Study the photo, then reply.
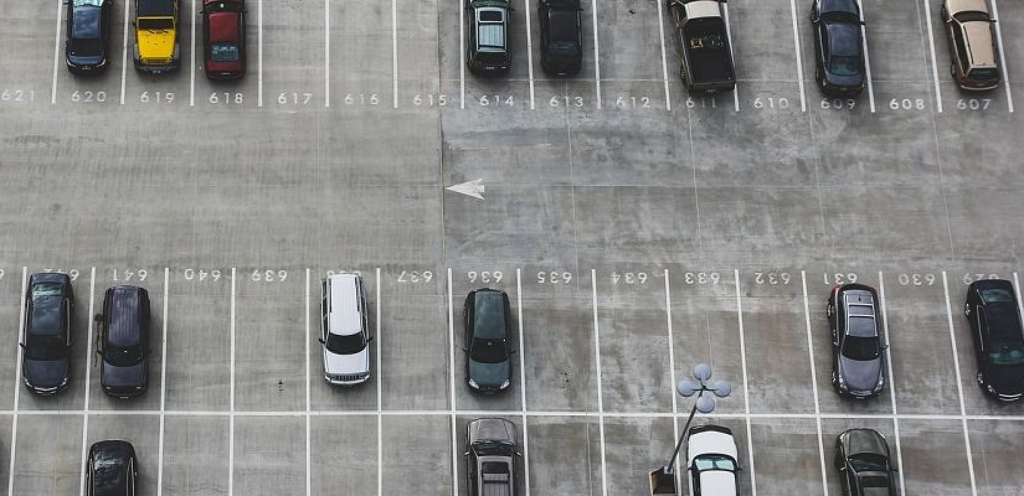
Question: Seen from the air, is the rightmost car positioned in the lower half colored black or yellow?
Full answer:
The color of the rightmost car positioned in the lower half is black.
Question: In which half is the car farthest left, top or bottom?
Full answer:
The car farthest left is in the bottom half of the image.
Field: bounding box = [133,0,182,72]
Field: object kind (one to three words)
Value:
car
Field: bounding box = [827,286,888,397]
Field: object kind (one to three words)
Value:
car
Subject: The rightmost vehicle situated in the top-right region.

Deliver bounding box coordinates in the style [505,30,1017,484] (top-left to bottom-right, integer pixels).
[945,0,1000,89]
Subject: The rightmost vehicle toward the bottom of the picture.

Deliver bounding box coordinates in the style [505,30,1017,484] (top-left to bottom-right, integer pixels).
[967,281,1024,400]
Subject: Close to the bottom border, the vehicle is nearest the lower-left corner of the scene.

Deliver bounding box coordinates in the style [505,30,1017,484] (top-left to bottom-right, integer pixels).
[87,442,138,496]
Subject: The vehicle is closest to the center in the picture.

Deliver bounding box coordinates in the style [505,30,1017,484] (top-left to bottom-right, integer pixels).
[464,288,517,393]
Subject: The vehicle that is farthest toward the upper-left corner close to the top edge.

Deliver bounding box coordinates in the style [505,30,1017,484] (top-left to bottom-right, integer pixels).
[64,0,113,71]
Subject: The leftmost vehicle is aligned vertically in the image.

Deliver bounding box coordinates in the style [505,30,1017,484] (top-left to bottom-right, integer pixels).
[18,274,73,394]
